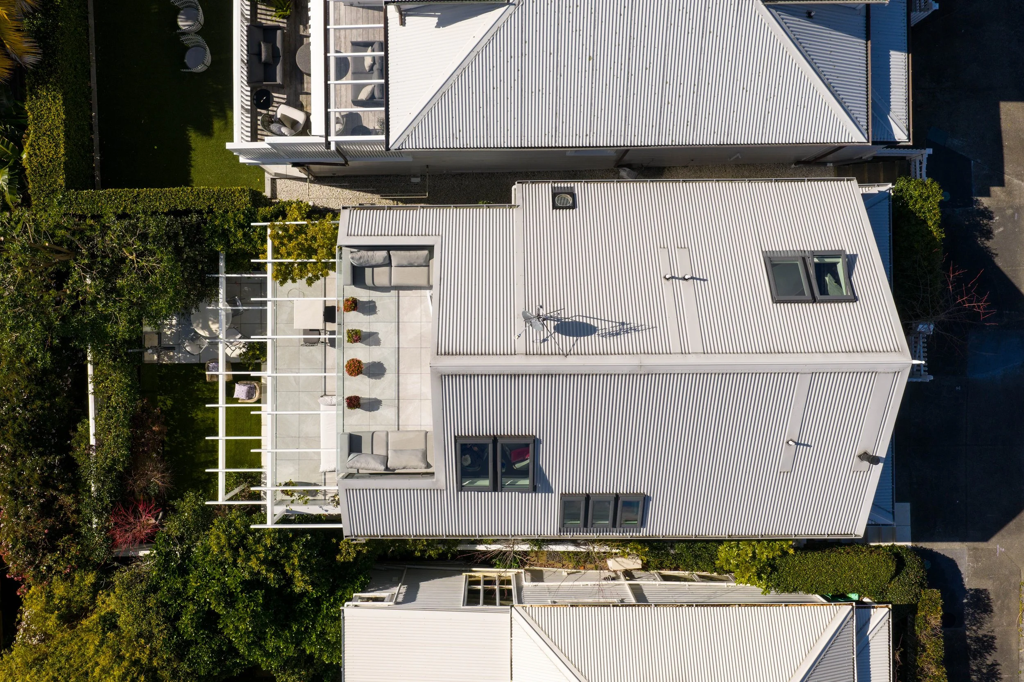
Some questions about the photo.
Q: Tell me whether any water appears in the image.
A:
No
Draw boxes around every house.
[360,0,912,179]
[334,177,928,543]
[341,562,893,682]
